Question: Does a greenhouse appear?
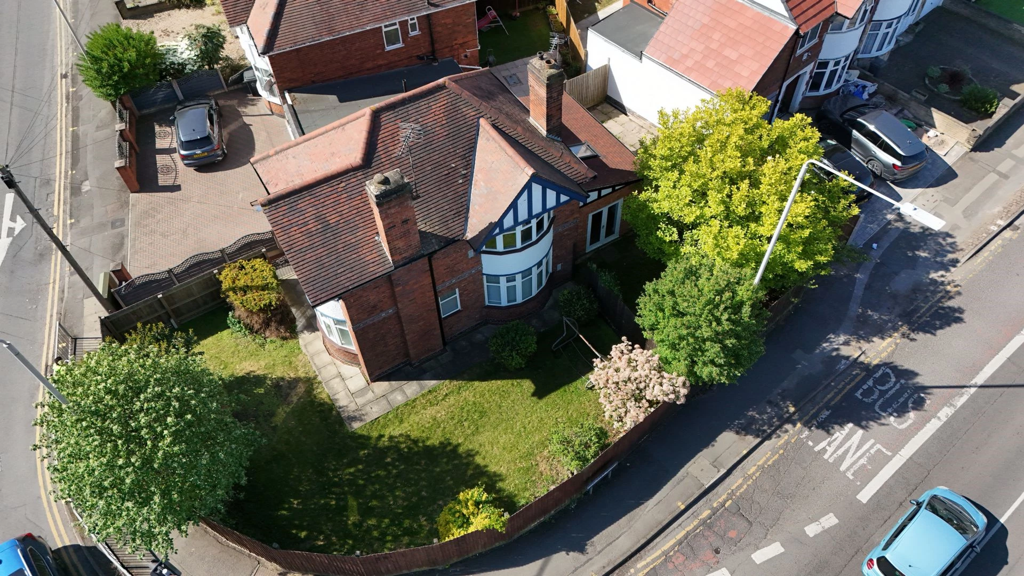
No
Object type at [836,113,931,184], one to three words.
car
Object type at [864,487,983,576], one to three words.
car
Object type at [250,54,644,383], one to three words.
house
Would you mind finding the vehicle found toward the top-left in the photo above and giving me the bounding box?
[172,103,225,168]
